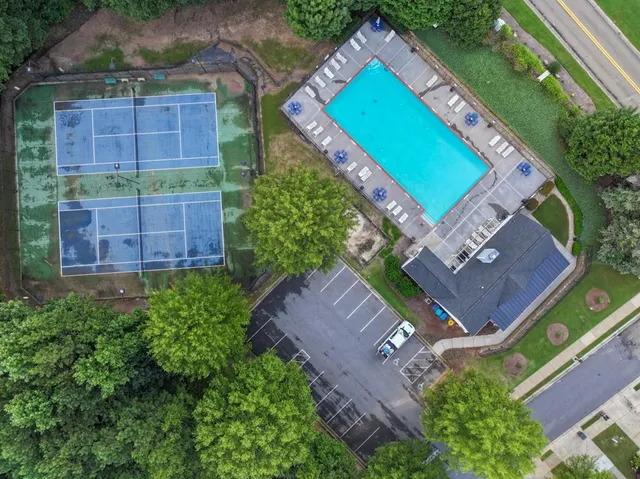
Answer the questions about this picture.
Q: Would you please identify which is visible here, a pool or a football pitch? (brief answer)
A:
pool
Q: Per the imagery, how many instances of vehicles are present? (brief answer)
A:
1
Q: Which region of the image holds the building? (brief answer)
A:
right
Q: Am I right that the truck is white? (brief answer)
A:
Yes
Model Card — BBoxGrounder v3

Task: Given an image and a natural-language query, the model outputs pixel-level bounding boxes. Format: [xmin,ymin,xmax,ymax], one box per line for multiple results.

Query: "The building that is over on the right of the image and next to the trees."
[401,211,571,338]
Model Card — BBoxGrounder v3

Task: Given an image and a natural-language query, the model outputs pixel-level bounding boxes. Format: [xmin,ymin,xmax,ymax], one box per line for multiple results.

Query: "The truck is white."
[378,321,414,360]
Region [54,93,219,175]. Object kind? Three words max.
tennis court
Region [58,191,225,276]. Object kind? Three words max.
tennis court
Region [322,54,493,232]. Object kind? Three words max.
swimming pool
